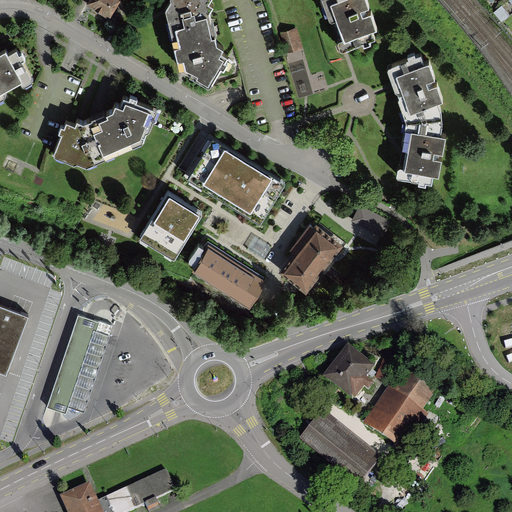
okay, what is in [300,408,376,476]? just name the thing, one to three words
barn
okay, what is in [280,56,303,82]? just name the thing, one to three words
building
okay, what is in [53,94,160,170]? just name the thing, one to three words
building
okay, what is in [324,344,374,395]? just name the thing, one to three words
house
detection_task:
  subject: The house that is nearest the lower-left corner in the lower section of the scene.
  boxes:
[60,482,102,512]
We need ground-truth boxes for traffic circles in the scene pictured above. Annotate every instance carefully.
[178,344,252,418]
